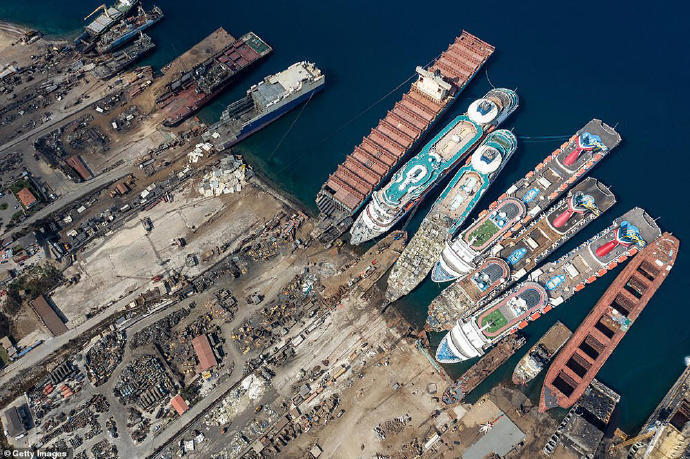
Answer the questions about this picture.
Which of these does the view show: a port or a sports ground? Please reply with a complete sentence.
The picture captures a port.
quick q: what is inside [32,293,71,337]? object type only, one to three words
building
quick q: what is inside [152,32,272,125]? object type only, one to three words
ship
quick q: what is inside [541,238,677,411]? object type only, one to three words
ship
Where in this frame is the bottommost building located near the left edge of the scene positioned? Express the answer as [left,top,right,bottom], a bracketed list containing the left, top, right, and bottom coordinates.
[4,406,30,437]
